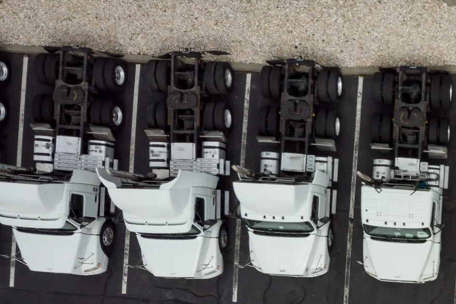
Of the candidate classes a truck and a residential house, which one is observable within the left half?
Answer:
truck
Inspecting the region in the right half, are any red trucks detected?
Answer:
No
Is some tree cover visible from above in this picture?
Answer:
No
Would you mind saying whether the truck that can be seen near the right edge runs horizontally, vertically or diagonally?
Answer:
vertically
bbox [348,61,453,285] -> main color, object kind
white truck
